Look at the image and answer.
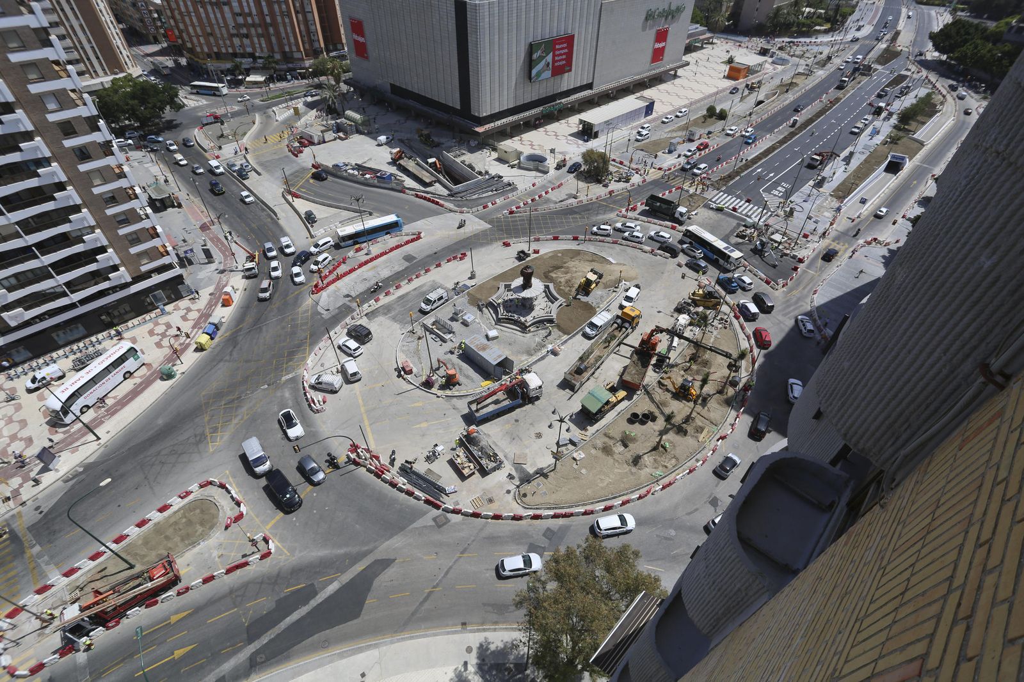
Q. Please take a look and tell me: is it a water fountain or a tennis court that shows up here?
water fountain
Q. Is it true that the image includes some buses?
Yes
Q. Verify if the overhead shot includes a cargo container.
Yes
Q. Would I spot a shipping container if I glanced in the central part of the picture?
Yes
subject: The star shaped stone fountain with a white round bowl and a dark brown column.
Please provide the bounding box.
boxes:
[479,264,559,332]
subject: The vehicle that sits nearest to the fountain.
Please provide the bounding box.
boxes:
[516,248,533,263]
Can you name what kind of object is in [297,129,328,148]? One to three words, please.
building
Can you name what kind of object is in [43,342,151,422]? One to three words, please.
bus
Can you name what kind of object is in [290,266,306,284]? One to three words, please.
car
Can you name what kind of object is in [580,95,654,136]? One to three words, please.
shed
